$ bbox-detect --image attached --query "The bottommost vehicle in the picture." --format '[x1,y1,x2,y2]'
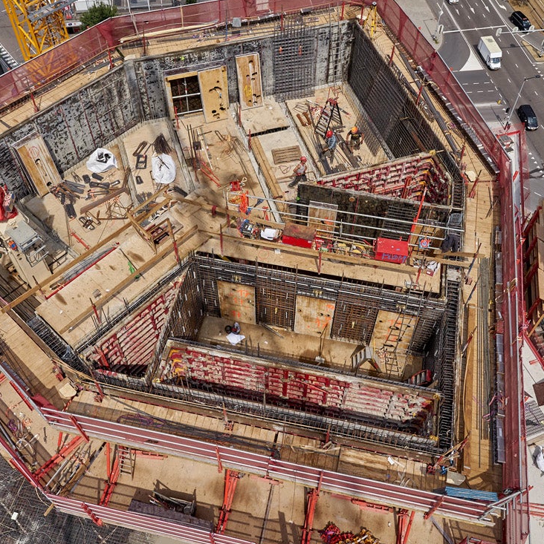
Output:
[517,103,539,129]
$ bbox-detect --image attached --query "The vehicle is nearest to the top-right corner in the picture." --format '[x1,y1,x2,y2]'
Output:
[512,8,530,29]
